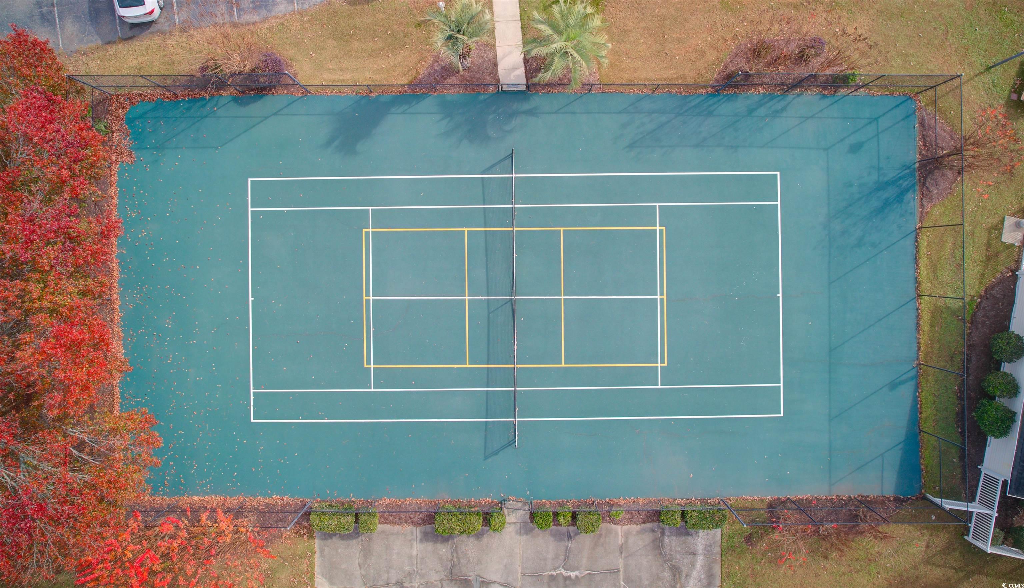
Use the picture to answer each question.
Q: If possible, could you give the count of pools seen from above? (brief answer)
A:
zero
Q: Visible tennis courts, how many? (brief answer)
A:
1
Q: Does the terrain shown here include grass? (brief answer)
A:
Yes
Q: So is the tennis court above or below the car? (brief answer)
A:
below it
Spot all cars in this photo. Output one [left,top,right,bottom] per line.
[115,0,166,24]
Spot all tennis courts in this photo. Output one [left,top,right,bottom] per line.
[106,95,922,503]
